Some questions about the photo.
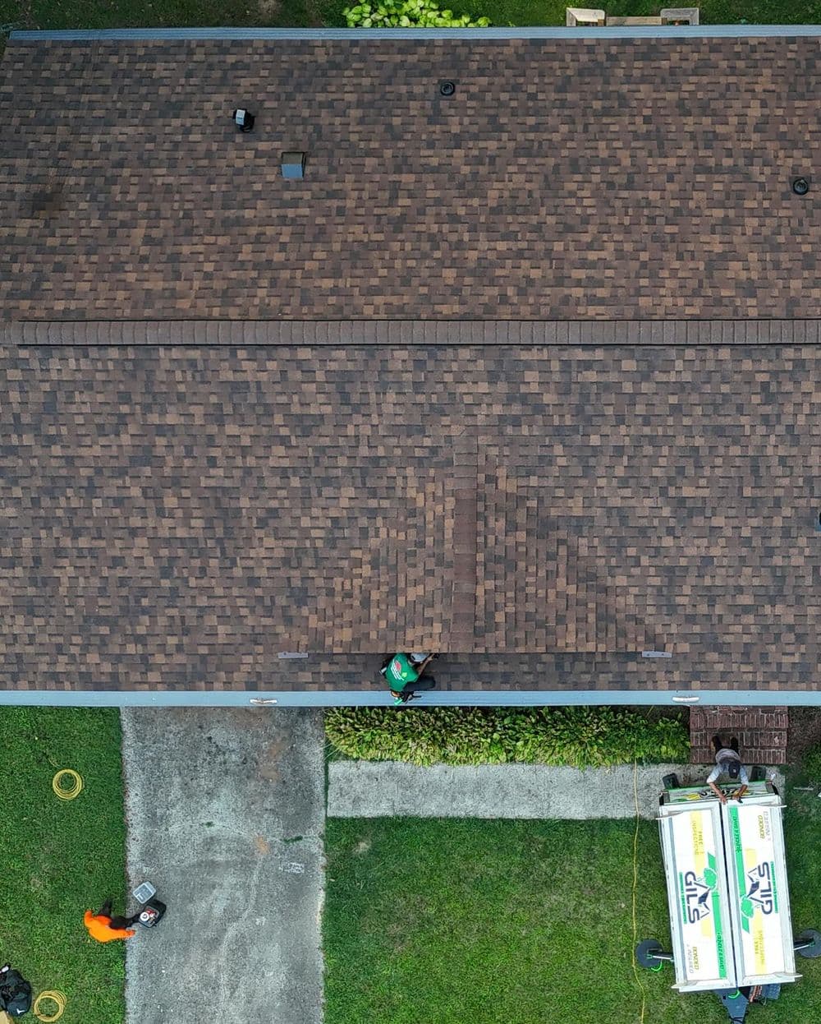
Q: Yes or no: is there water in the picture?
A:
No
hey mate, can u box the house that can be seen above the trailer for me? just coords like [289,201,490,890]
[0,25,821,706]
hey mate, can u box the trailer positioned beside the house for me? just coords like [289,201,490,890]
[636,765,821,1024]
